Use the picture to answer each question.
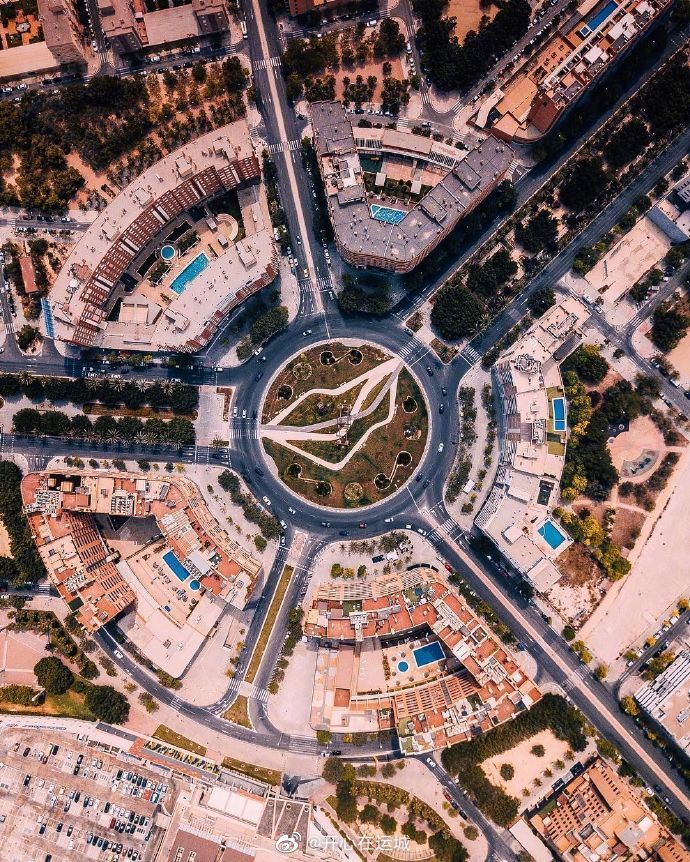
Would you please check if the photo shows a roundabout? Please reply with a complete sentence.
Yes, a roundabout appears in the view.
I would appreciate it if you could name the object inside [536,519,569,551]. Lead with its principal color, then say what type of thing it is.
blue swimming pool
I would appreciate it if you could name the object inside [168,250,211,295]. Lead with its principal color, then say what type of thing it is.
blue swimming pool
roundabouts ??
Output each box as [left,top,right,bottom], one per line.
[230,310,460,540]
